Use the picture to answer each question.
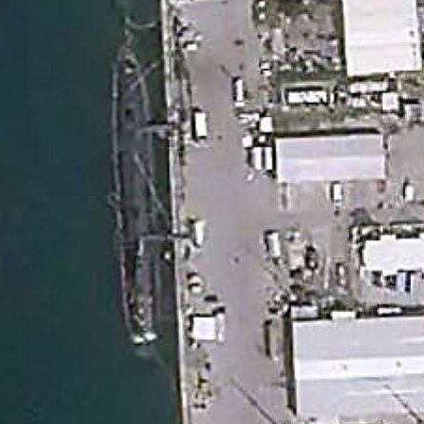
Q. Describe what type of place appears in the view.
port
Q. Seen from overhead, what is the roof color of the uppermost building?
white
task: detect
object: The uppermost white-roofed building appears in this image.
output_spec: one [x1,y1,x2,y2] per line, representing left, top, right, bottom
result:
[342,0,422,76]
